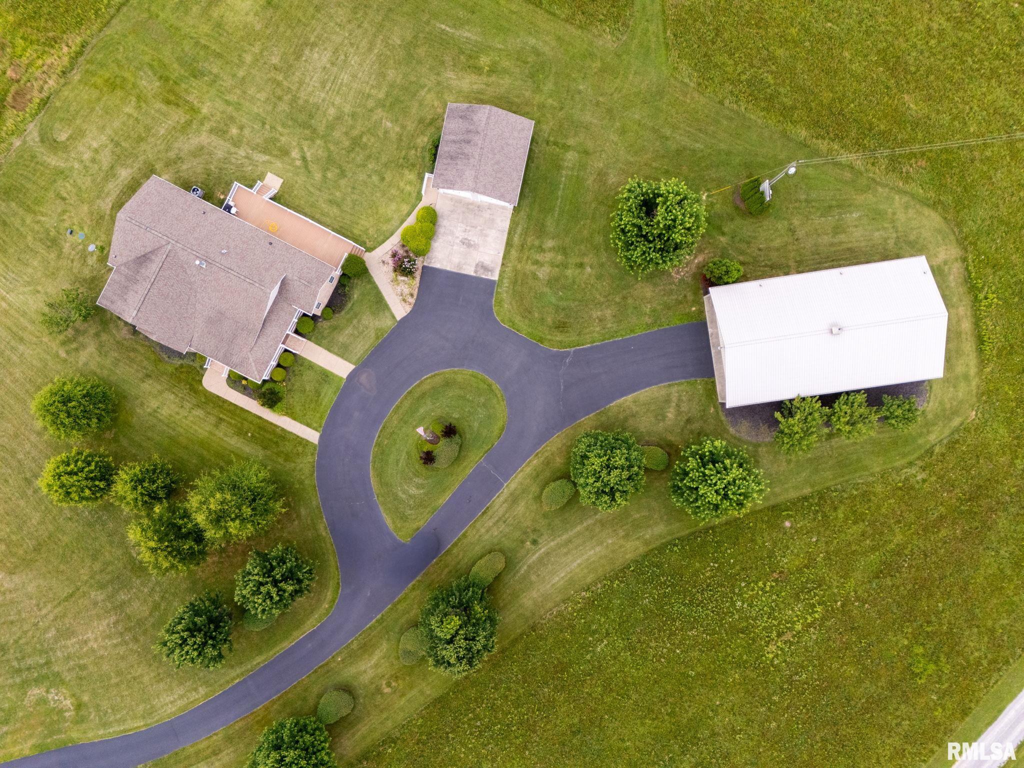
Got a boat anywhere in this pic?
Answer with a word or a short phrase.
No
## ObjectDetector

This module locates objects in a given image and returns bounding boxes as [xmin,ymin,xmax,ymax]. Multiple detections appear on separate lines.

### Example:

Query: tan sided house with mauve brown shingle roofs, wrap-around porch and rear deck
[98,174,339,383]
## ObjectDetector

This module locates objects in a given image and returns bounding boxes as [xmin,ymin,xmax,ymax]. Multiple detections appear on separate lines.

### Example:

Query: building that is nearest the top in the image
[431,103,535,207]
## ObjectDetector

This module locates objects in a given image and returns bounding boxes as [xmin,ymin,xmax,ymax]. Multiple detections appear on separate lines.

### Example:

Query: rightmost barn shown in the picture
[703,254,950,410]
